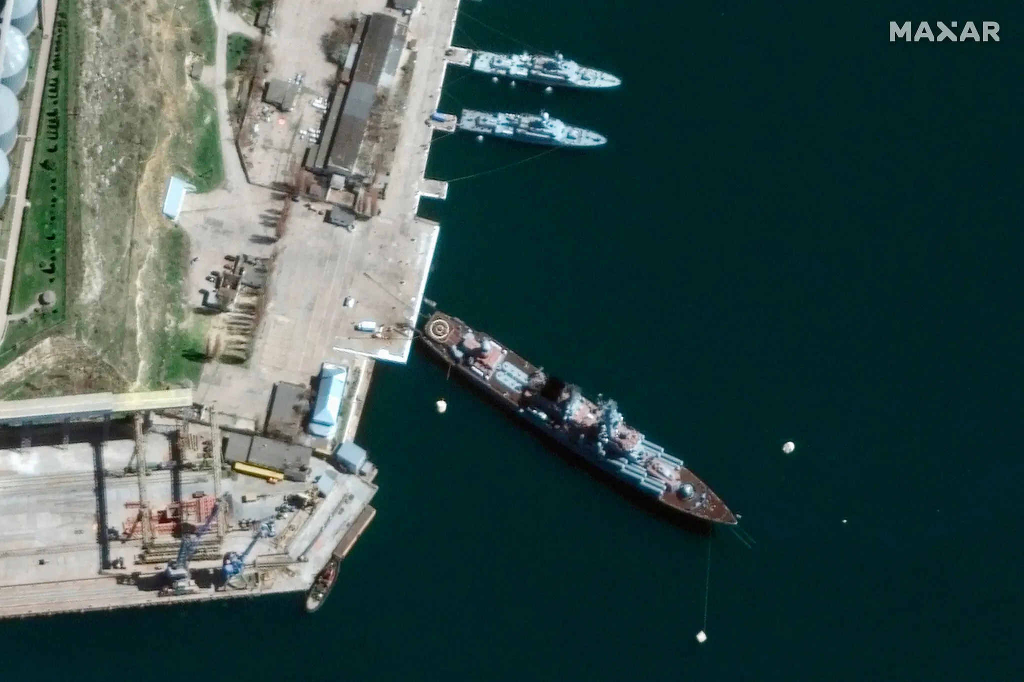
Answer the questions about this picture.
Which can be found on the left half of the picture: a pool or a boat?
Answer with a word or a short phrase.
boat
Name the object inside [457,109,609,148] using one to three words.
ship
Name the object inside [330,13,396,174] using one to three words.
building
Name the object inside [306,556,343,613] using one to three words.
boat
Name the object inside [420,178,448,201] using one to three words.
pier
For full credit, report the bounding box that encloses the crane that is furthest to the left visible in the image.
[122,411,159,552]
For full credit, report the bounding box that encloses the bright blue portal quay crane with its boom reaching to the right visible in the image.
[213,531,266,593]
